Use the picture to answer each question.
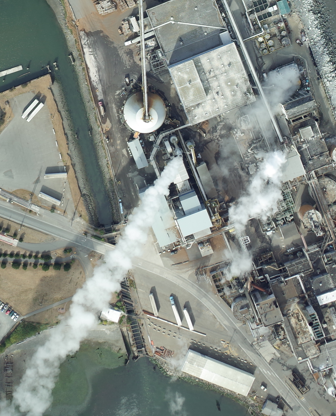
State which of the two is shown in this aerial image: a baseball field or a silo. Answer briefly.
silo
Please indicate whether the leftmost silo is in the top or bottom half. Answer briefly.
top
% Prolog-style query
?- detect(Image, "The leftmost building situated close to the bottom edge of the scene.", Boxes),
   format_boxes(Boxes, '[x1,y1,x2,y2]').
[181,349,255,396]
